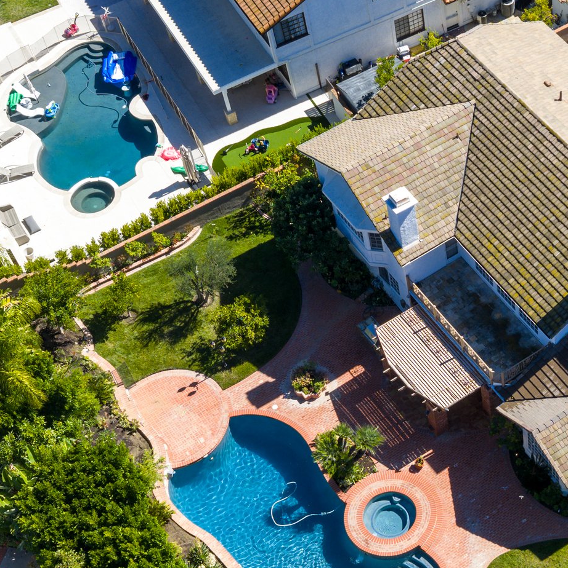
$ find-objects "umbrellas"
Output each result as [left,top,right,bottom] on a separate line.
[24,74,39,102]
[181,145,200,186]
